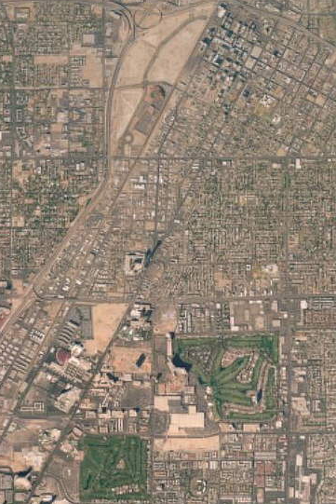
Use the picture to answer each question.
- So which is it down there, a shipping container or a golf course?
golf course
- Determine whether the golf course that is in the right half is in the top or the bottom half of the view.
bottom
